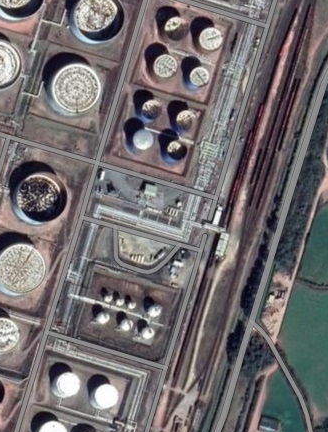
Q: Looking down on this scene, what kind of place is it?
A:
industrial area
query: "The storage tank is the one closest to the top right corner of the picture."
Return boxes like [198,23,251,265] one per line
[193,27,225,56]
